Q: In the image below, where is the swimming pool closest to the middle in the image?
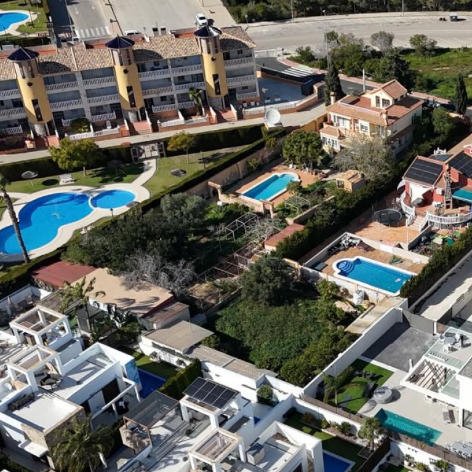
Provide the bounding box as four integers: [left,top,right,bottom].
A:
[241,171,302,201]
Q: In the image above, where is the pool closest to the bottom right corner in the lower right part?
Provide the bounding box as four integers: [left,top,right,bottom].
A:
[373,405,445,448]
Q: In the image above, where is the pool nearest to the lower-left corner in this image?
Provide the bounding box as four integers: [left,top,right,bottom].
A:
[137,365,160,400]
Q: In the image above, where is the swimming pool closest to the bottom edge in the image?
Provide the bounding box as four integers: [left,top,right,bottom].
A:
[322,449,347,472]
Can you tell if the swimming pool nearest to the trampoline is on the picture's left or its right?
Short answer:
right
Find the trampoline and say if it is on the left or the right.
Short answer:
right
